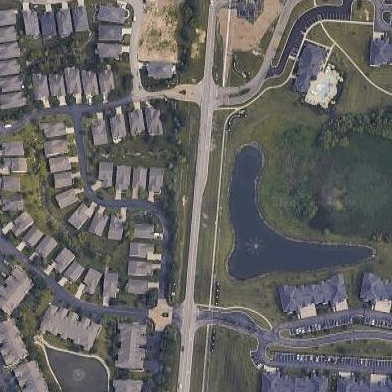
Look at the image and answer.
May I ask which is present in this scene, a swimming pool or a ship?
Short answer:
swimming pool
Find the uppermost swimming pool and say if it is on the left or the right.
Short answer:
right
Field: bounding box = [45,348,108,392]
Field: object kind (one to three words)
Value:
pond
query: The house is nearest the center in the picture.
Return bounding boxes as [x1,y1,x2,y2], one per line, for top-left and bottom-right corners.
[148,165,164,194]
